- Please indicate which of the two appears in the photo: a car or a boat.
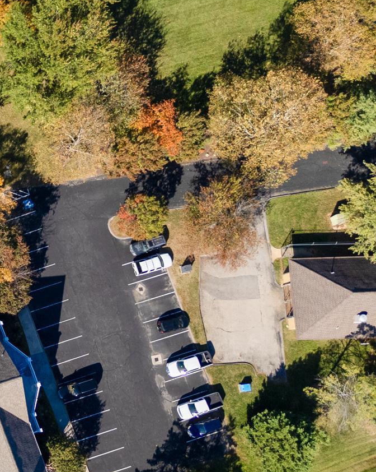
car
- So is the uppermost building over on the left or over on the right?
right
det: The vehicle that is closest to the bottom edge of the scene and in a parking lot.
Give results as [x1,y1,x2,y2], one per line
[185,417,225,437]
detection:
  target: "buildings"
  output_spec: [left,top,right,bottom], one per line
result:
[0,322,47,472]
[289,257,376,340]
